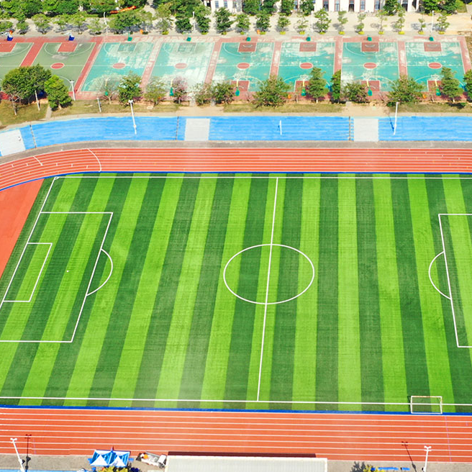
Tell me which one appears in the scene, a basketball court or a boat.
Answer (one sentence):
This aerial view contains a basketball court.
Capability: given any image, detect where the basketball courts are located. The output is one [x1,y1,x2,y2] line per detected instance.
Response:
[73,36,161,100]
[204,36,278,99]
[400,35,472,99]
[0,37,42,100]
[7,36,101,100]
[272,35,338,99]
[338,35,407,99]
[140,36,218,100]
